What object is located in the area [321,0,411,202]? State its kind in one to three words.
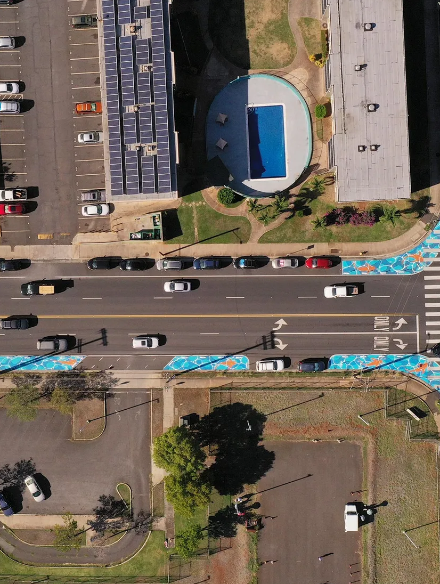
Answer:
building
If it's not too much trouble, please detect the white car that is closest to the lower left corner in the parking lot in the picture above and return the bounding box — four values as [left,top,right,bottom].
[23,474,46,503]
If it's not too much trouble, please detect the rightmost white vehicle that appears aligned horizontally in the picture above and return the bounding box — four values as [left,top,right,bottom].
[324,285,357,297]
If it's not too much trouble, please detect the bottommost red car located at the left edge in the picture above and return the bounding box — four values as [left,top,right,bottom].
[0,202,26,216]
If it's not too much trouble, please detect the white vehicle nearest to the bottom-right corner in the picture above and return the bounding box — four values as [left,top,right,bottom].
[345,503,359,534]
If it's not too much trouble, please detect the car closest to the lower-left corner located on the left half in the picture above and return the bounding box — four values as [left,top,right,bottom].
[0,488,16,518]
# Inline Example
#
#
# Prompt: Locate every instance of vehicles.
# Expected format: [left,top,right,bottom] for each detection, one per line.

[0,0,15,5]
[0,488,16,518]
[0,260,22,271]
[0,190,28,201]
[0,202,26,216]
[164,280,191,292]
[257,359,284,373]
[193,257,219,270]
[72,16,99,28]
[273,257,298,269]
[81,204,110,216]
[0,83,20,95]
[87,258,113,270]
[119,258,146,271]
[297,359,325,372]
[305,257,332,267]
[0,101,20,114]
[0,38,16,49]
[75,100,102,114]
[37,337,68,350]
[81,192,105,202]
[78,131,103,144]
[345,503,359,534]
[233,256,259,269]
[0,317,30,328]
[131,337,159,350]
[23,474,46,503]
[324,285,357,297]
[156,258,183,271]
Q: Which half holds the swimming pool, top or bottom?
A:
top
